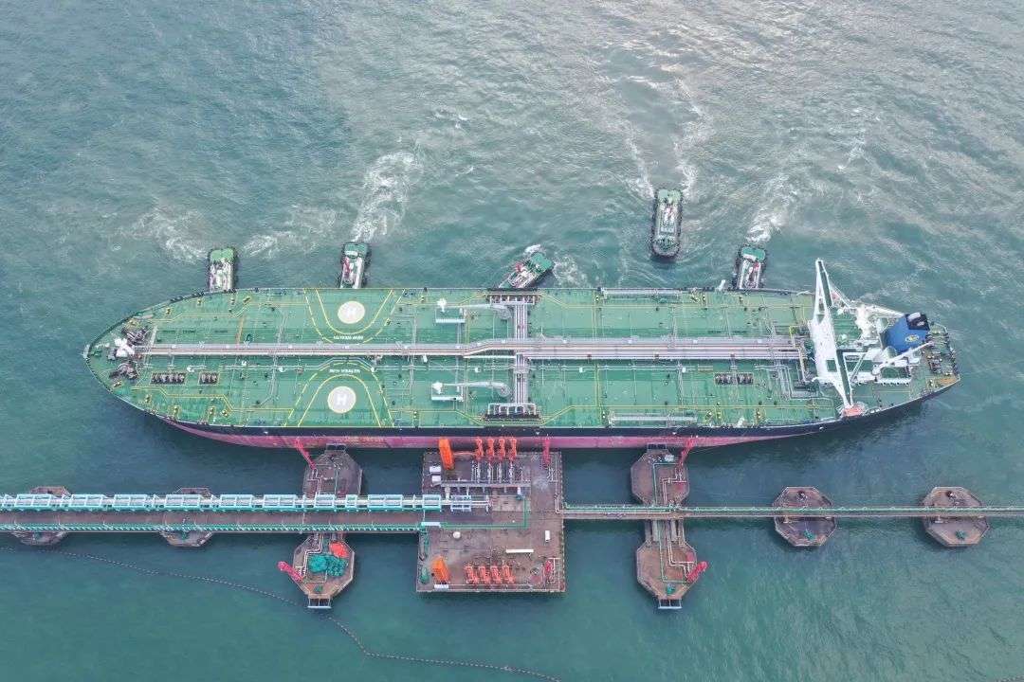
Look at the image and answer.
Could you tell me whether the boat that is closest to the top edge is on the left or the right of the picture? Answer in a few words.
right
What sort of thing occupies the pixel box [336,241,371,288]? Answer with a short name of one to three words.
boat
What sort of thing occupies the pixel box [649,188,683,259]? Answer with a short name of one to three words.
boat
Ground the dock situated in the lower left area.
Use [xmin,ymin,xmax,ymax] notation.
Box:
[0,494,430,535]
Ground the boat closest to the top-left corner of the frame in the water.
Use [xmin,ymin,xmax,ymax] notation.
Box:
[204,248,238,291]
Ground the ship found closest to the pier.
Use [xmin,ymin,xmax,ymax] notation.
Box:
[79,257,961,450]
